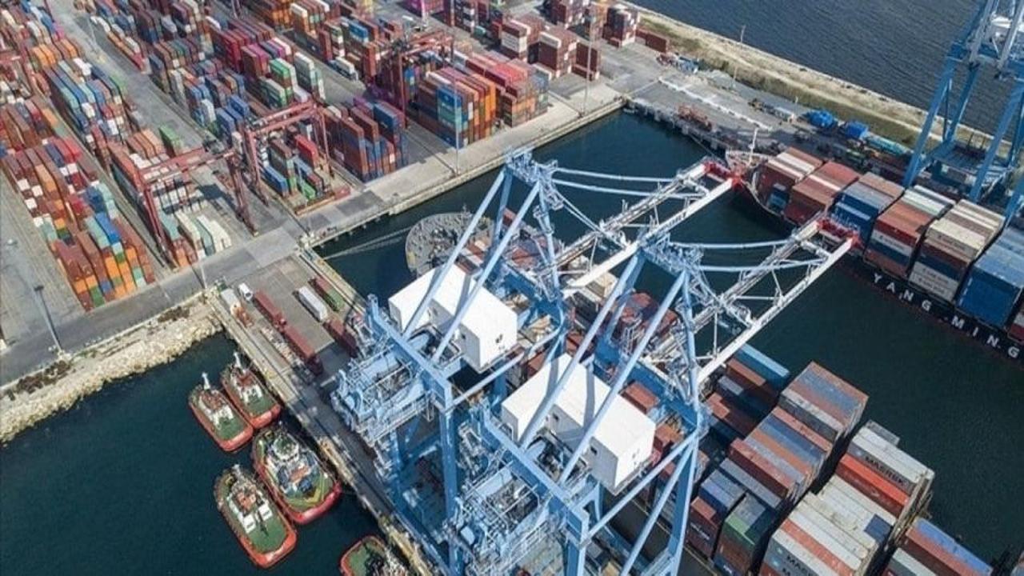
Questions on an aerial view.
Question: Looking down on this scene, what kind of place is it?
port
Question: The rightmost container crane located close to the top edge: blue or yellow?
blue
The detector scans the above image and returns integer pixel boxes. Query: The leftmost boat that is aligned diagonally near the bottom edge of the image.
[217,453,300,569]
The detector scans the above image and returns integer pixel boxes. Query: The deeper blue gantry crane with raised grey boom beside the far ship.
[904,0,1024,226]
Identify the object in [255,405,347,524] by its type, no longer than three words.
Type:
boat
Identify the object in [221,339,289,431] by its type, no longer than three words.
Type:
boat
